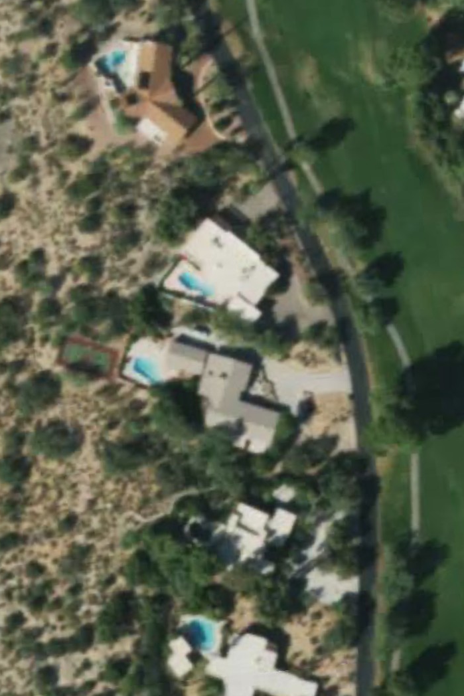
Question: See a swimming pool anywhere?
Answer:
Yes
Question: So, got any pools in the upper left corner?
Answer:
Yes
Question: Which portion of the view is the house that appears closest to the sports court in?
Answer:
center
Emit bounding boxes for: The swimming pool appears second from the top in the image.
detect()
[178,271,215,298]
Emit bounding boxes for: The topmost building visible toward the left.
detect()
[124,41,196,148]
